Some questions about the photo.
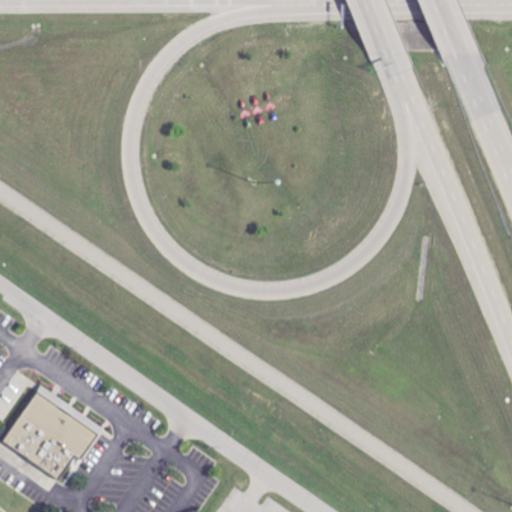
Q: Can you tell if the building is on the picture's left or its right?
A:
left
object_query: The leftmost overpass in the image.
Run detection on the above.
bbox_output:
[346,0,412,66]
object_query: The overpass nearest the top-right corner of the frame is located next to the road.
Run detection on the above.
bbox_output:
[418,0,486,66]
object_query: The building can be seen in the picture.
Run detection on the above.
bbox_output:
[0,393,98,480]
